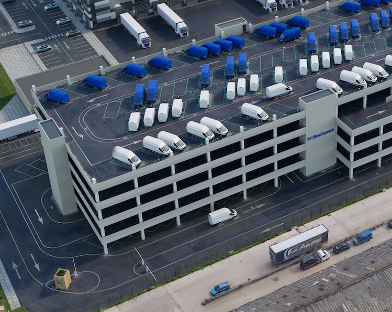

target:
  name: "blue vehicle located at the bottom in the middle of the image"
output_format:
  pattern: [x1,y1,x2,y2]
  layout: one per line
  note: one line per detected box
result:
[209,281,230,297]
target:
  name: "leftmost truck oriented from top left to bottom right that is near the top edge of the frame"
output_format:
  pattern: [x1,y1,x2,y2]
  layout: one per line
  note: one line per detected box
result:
[116,14,147,49]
